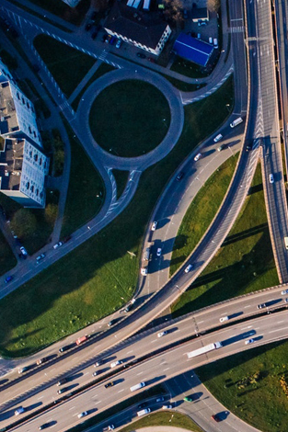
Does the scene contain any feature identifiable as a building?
Yes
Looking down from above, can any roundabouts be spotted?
Yes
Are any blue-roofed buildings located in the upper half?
Yes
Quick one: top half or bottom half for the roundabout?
top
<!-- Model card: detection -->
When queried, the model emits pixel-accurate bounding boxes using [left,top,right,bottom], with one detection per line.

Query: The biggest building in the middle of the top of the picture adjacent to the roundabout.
[105,3,175,58]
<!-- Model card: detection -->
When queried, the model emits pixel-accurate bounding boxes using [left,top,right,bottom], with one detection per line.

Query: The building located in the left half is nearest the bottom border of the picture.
[0,130,50,207]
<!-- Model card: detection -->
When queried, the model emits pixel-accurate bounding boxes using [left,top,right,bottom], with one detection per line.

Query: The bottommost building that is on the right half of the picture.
[174,33,215,67]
